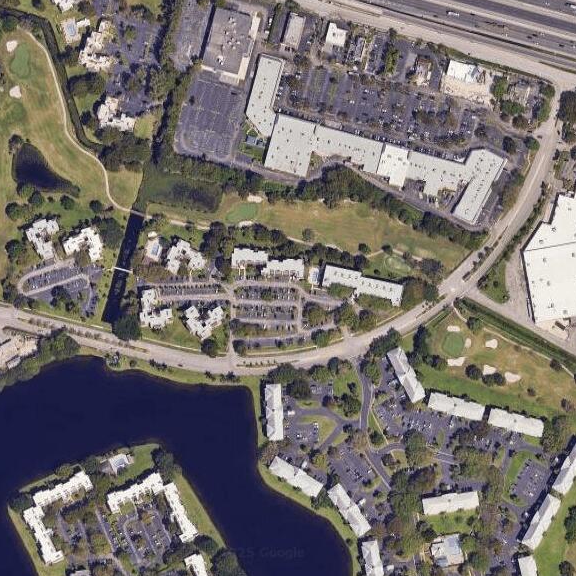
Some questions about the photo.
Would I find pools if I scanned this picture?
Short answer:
Yes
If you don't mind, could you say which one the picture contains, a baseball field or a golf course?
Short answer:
golf course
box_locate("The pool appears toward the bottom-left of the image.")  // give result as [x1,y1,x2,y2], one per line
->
[103,454,128,473]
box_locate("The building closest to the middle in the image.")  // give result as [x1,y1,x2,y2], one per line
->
[261,258,306,278]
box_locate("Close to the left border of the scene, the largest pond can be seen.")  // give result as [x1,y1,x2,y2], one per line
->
[13,143,77,193]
